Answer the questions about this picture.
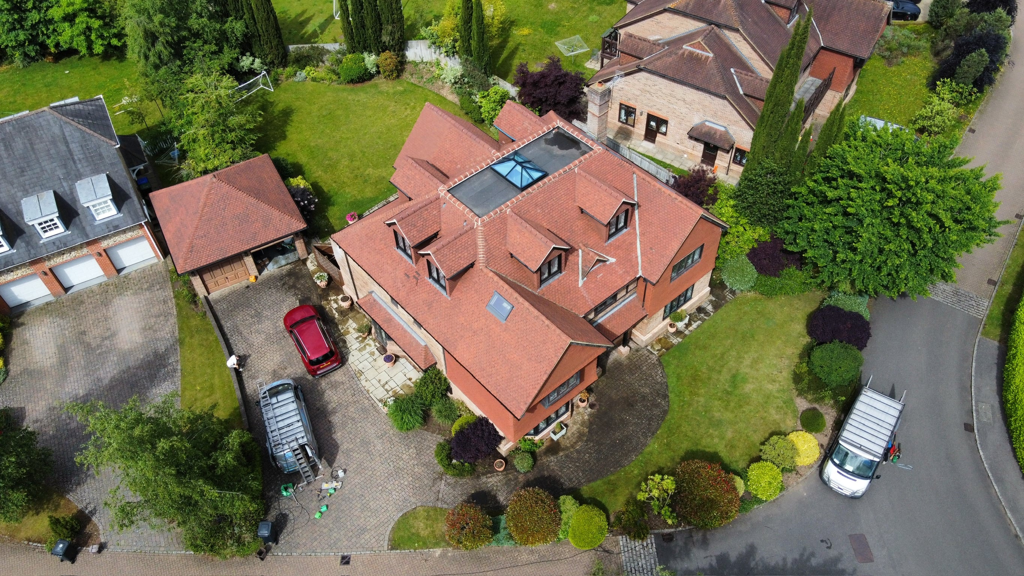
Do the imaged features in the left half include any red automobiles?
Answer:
Yes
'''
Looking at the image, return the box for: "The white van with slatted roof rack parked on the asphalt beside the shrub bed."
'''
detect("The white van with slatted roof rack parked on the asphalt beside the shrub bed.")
[816,376,909,510]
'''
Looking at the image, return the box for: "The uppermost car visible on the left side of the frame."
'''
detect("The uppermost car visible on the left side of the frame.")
[283,303,344,384]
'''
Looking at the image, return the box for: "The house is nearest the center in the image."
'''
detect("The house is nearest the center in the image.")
[330,98,729,461]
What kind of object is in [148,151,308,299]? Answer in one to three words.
building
